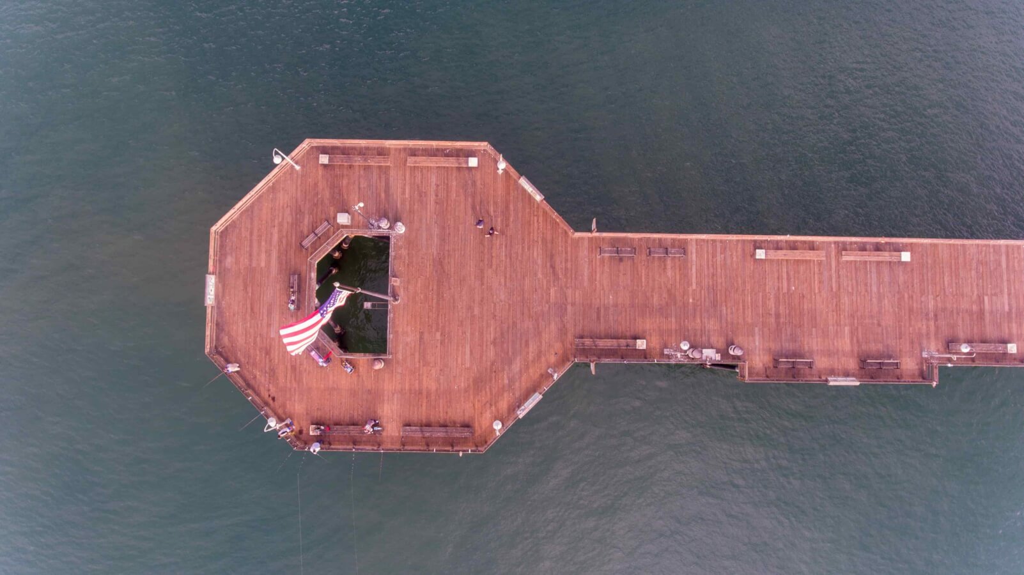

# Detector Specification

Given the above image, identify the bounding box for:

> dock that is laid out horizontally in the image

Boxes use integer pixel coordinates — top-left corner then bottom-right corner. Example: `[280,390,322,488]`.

[205,139,1024,455]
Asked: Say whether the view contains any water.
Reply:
Yes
